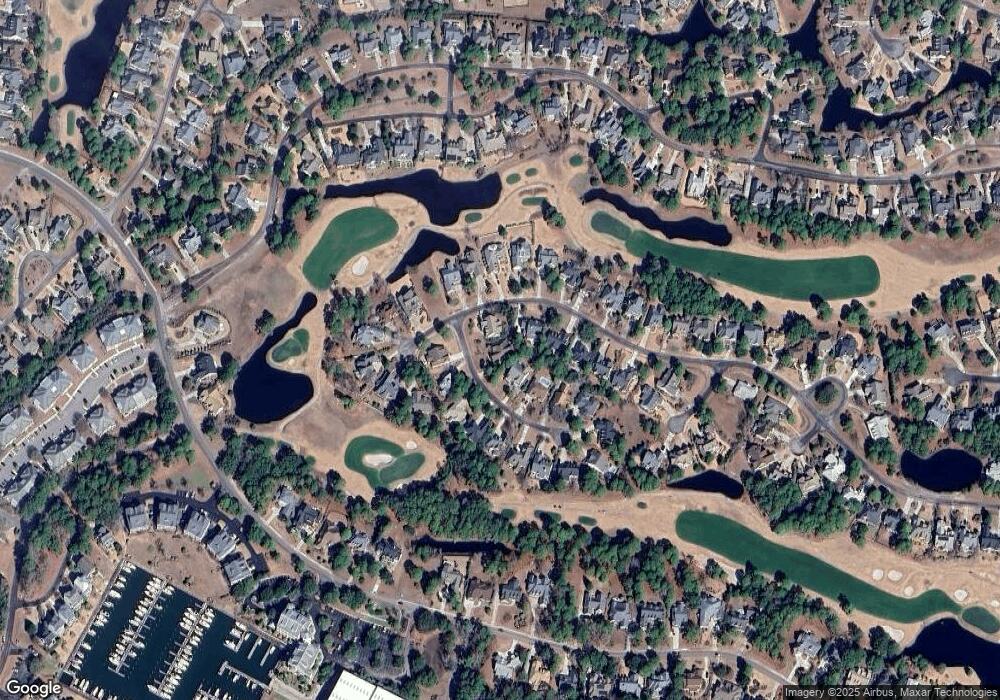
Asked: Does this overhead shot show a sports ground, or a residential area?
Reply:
residential area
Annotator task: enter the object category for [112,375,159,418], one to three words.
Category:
building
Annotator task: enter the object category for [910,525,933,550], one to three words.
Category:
house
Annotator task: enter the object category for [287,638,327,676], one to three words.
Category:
building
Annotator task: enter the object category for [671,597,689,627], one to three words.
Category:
house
